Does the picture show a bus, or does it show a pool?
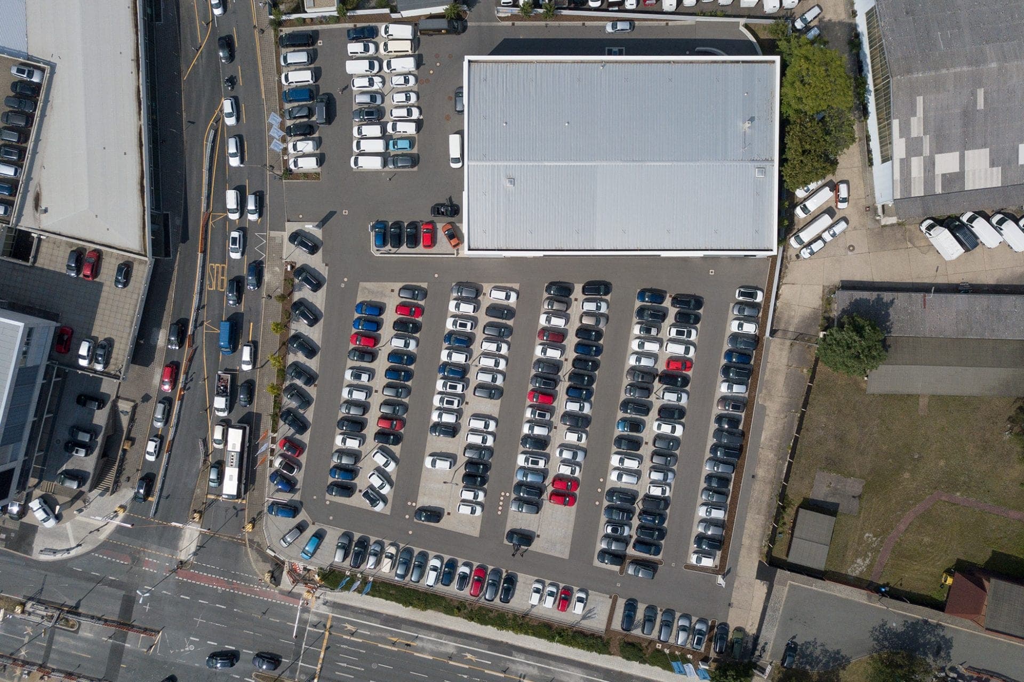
bus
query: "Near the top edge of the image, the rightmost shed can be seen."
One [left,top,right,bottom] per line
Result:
[853,0,1024,220]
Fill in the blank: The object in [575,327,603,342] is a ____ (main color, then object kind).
black car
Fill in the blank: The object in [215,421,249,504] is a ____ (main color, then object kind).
white bus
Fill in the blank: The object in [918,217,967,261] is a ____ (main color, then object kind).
white truck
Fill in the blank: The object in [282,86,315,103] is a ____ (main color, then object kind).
blue vehicle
